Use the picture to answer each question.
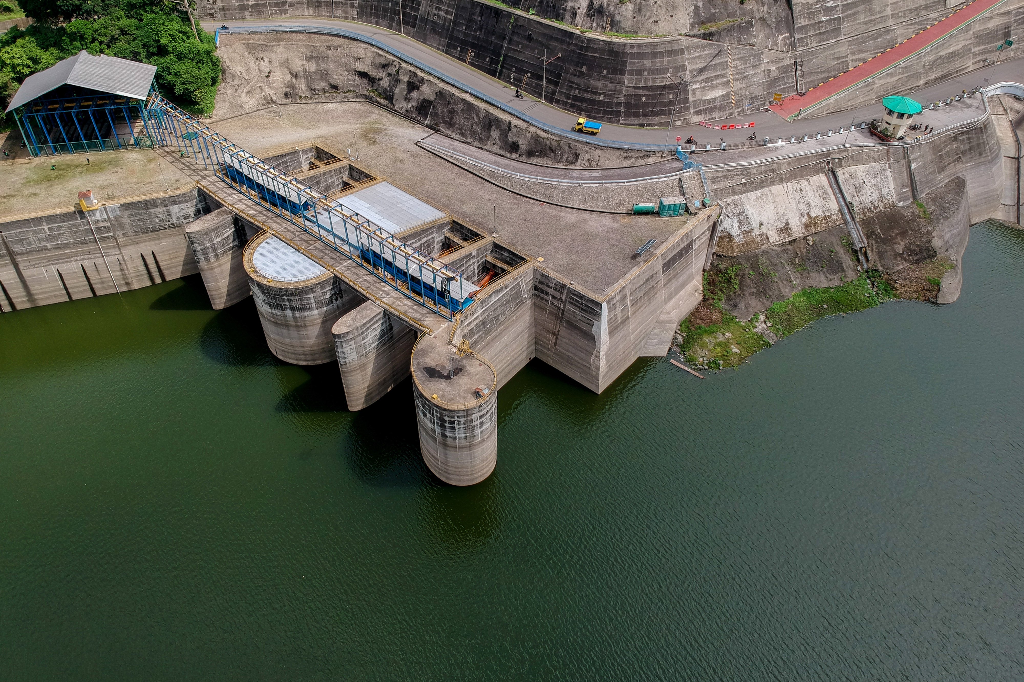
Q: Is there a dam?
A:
Yes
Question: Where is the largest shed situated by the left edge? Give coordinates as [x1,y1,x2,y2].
[4,49,165,153]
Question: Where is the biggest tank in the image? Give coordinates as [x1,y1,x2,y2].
[658,196,687,216]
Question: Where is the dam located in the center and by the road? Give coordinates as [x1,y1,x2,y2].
[185,144,719,485]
